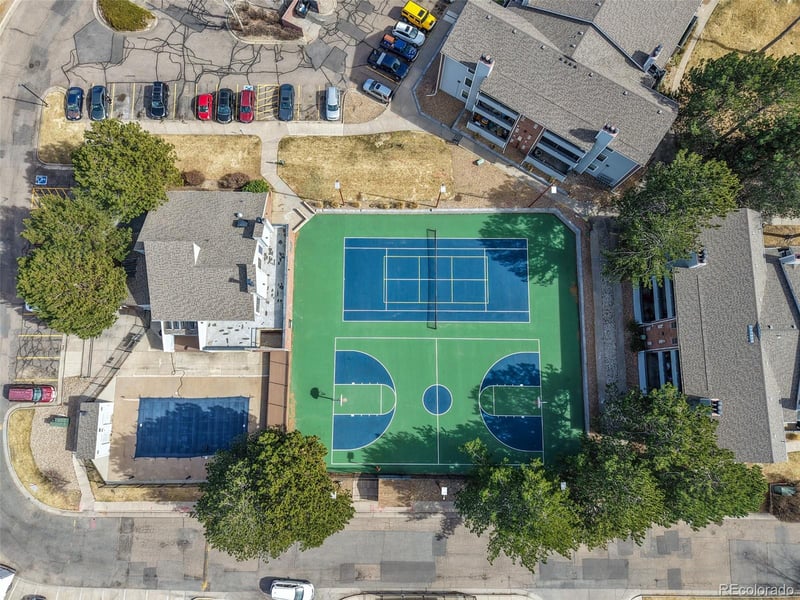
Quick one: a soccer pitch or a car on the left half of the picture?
car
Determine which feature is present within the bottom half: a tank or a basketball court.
basketball court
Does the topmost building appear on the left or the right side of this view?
right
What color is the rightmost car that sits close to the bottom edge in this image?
white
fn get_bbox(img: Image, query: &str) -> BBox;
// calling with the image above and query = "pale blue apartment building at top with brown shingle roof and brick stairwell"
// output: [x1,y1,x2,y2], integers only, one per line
[431,0,705,190]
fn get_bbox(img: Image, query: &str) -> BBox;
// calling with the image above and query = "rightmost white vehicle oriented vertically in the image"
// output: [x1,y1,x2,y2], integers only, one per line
[323,85,341,122]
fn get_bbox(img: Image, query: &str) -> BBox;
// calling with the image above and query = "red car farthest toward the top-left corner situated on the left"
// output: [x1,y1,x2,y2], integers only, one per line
[195,92,213,123]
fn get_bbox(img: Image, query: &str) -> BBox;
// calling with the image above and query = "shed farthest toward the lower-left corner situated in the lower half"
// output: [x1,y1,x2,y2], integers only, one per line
[77,402,113,463]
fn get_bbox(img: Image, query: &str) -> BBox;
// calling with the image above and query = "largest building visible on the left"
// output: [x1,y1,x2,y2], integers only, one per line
[119,191,288,354]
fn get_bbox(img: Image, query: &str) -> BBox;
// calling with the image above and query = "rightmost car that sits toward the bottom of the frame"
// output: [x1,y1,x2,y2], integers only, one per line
[270,578,315,600]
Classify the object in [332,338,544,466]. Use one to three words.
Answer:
basketball court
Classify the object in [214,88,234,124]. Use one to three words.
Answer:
car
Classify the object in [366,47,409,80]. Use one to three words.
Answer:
truck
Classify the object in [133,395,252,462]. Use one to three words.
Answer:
swimming pool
